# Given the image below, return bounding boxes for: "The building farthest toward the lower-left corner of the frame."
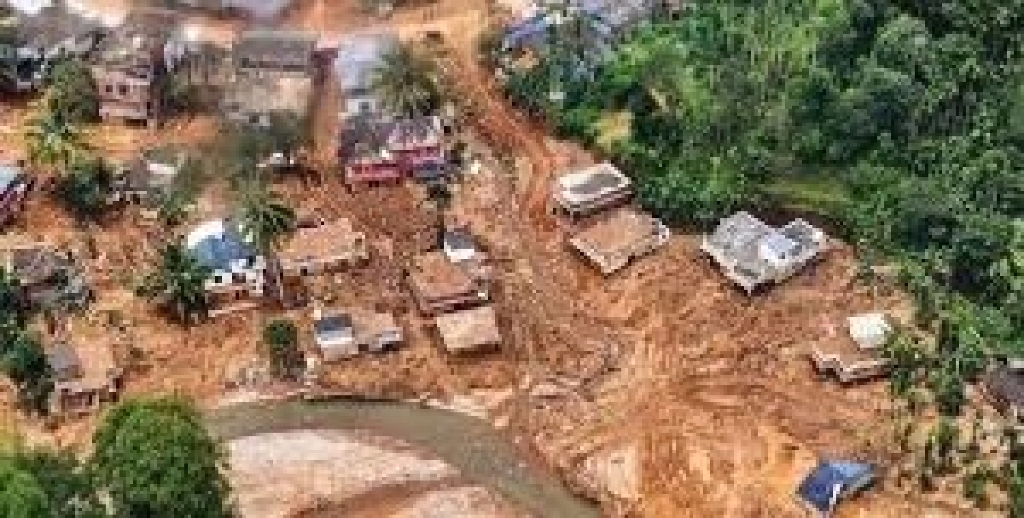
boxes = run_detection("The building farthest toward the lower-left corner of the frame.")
[41,325,121,424]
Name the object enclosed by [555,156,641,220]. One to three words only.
house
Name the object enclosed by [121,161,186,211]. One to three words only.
shed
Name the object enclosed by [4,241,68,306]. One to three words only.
house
